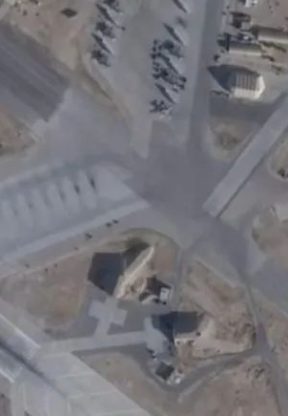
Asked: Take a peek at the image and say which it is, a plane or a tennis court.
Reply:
plane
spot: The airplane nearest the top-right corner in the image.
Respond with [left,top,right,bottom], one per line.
[165,40,183,57]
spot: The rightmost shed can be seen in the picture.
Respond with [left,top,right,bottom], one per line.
[259,26,288,41]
